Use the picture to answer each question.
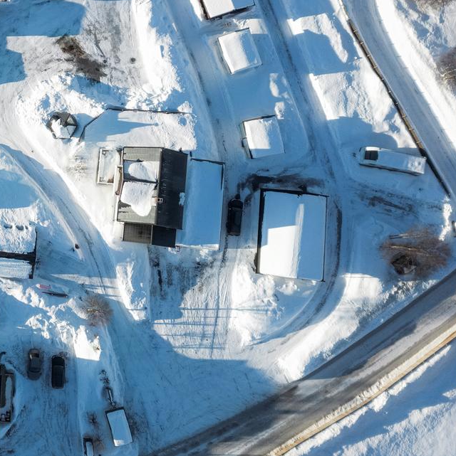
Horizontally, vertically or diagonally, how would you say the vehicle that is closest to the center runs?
vertically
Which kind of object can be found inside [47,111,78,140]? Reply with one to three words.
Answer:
gazebo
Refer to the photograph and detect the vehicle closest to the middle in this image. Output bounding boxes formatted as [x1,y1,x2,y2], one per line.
[223,197,243,235]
